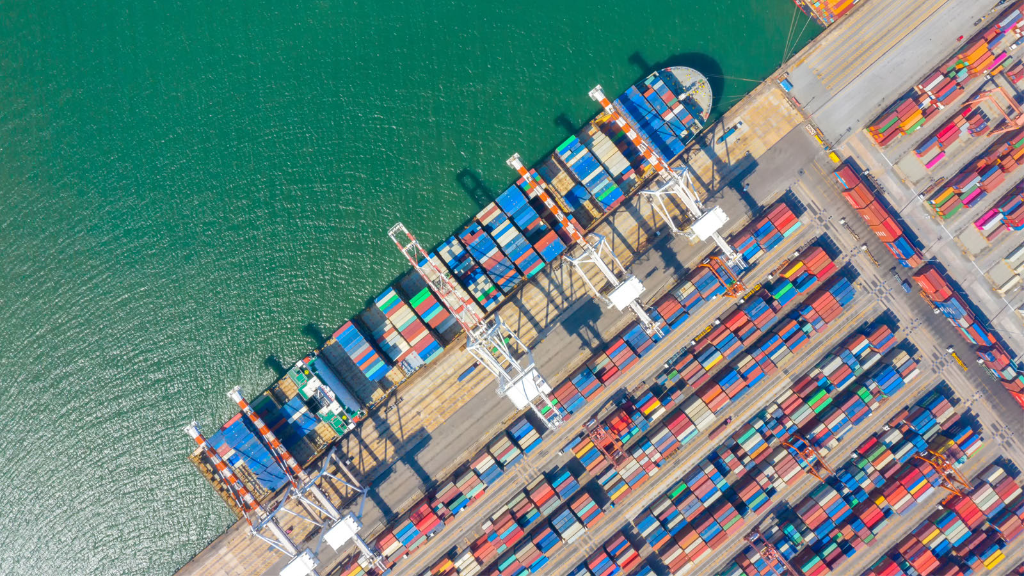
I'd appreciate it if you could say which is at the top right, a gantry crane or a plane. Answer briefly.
gantry crane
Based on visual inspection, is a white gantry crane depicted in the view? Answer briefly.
Yes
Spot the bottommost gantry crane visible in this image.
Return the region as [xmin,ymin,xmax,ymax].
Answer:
[743,527,796,576]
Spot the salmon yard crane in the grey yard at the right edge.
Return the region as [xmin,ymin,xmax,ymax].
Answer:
[961,86,1024,139]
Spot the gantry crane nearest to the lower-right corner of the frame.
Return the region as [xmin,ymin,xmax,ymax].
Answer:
[916,449,974,499]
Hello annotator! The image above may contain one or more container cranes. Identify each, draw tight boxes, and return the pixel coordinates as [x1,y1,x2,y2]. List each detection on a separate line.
[916,449,974,499]
[743,527,796,576]
[961,86,1024,139]
[183,420,335,576]
[506,148,665,337]
[581,414,627,468]
[697,255,748,299]
[586,79,746,271]
[782,432,835,484]
[226,384,388,567]
[388,223,566,429]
